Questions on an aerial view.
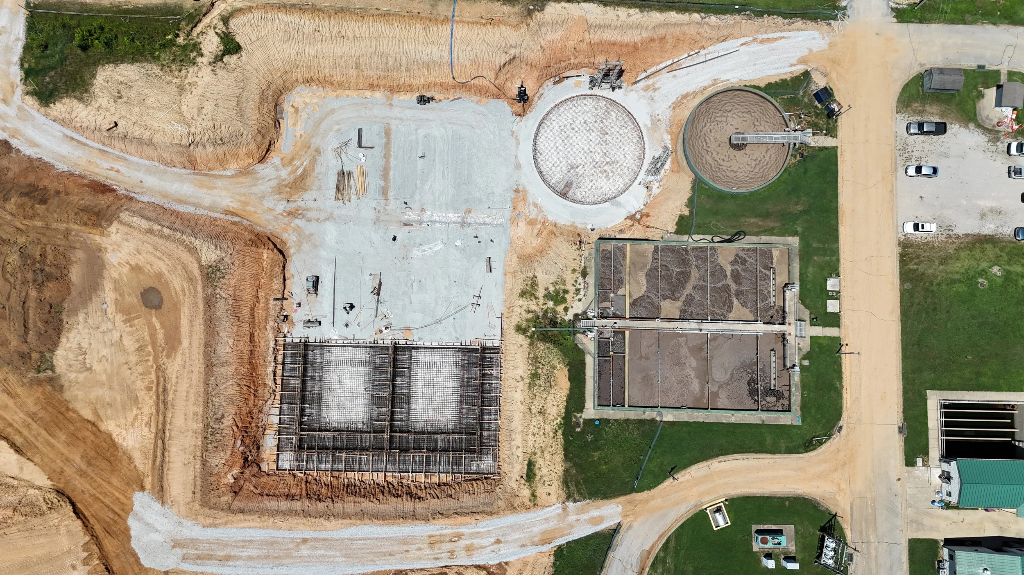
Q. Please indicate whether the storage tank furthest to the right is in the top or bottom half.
bottom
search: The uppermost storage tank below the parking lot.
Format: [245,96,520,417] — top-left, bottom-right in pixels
[938,400,1024,458]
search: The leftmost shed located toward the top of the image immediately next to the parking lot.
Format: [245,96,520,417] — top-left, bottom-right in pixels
[921,68,968,93]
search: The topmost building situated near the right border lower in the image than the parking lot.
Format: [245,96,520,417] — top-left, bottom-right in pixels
[936,457,1024,508]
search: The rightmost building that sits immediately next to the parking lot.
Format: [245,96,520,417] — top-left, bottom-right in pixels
[985,78,1024,111]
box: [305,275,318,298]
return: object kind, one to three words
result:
vehicle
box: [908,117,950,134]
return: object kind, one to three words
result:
vehicle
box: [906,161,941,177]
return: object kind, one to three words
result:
car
